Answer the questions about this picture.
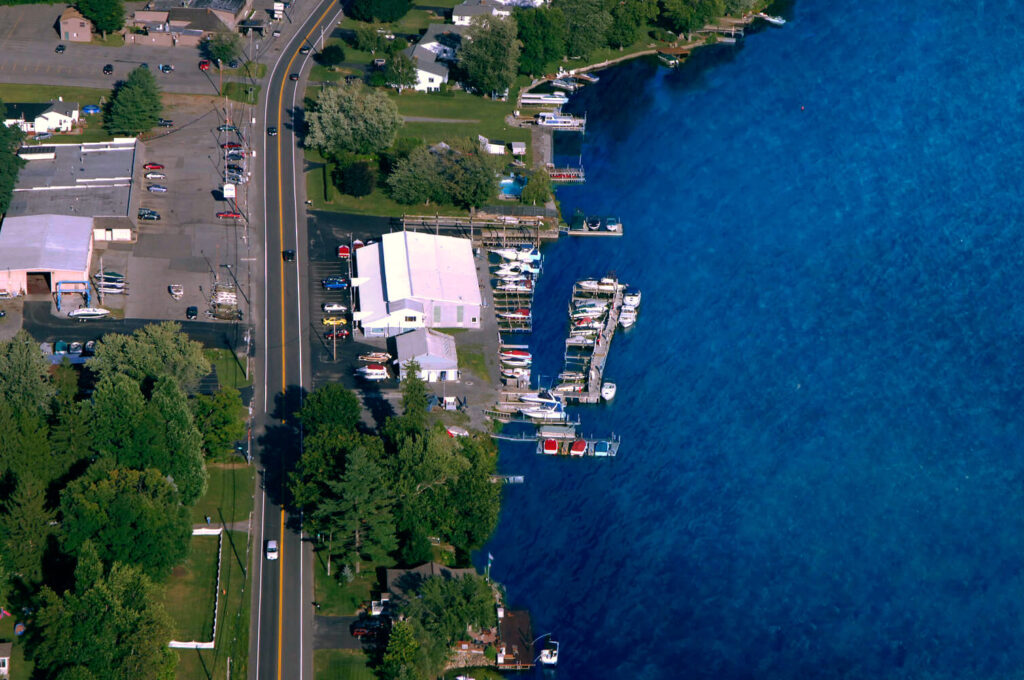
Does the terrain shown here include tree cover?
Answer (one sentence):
Yes, some tree cover is visible.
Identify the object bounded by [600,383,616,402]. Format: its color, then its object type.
white boat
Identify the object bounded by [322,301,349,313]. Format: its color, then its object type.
white vehicle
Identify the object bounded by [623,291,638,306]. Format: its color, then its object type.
white boat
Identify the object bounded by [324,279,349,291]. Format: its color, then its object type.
blue vehicle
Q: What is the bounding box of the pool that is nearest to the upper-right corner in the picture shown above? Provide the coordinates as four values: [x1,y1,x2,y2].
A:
[500,180,526,198]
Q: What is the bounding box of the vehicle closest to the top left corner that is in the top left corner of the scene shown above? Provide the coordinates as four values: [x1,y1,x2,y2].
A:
[56,41,68,53]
